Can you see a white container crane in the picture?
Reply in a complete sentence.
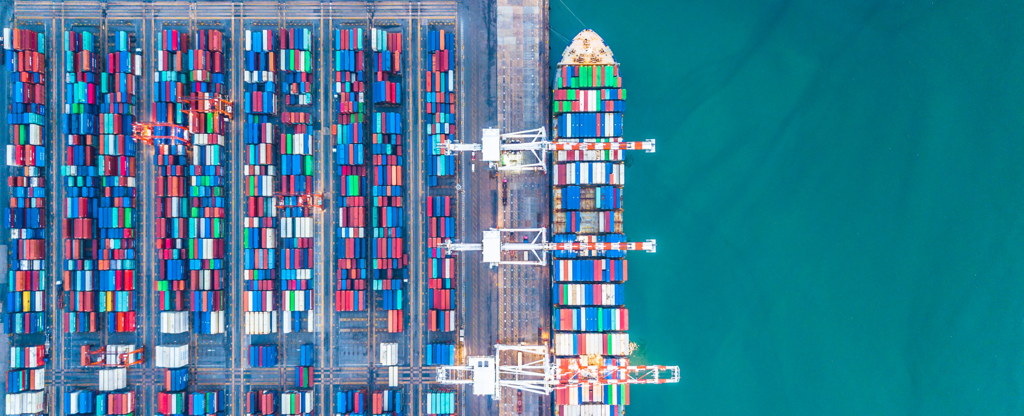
Yes, this view includes a white container crane.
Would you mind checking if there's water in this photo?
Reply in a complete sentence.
Yes, there's water in this view.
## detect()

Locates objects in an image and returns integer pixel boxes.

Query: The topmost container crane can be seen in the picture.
[177,95,234,121]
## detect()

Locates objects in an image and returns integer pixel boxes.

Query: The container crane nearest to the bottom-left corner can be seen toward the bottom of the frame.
[84,344,145,368]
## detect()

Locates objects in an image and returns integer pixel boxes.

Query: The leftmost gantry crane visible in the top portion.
[132,121,191,146]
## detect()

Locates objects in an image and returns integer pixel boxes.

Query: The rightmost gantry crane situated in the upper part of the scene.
[435,125,655,175]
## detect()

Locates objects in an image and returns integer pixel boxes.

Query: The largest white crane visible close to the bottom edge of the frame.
[433,338,679,407]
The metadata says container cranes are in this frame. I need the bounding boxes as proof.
[84,344,145,368]
[272,190,322,212]
[132,121,191,146]
[433,338,679,407]
[435,125,655,175]
[436,225,655,268]
[177,95,234,121]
